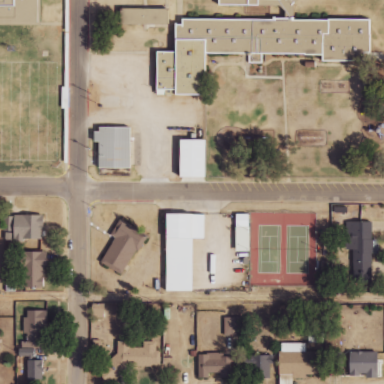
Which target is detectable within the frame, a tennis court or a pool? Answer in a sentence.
Looking from above, you can make out a tennis court.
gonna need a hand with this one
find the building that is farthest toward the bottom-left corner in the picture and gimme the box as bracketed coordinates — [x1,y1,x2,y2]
[27,360,42,380]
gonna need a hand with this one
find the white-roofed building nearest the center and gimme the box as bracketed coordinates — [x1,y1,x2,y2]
[180,139,206,177]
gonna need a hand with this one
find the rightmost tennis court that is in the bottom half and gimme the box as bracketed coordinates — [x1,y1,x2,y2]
[284,212,316,285]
